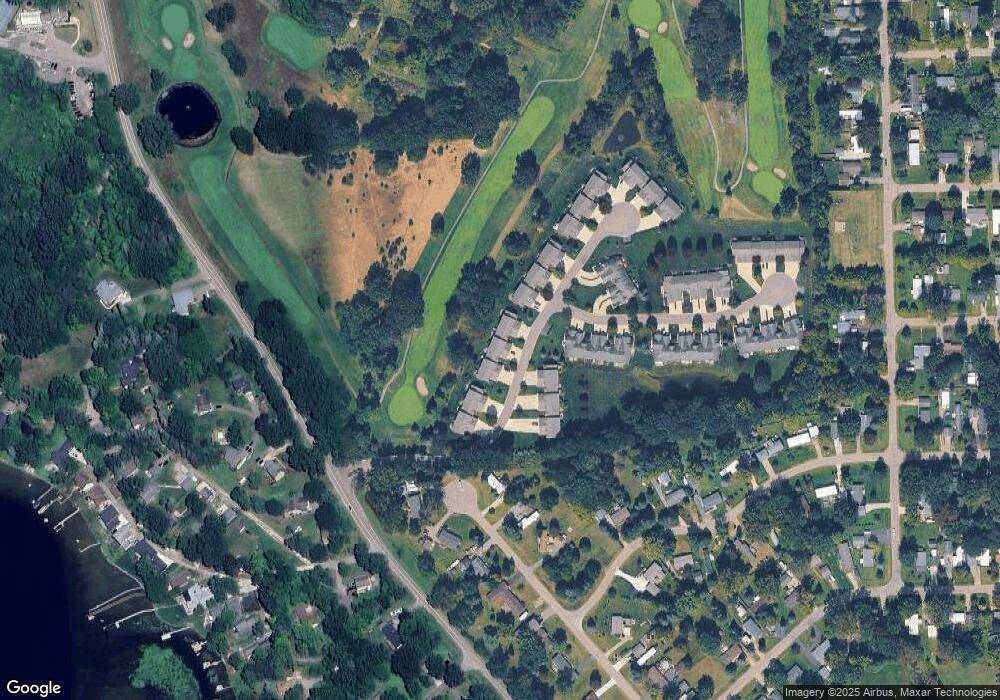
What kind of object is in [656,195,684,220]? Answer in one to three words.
house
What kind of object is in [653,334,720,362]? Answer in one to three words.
building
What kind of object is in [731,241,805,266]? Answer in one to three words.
building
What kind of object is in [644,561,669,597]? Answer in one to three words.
house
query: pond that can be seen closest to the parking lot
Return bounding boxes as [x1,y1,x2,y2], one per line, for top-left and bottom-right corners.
[157,82,220,143]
